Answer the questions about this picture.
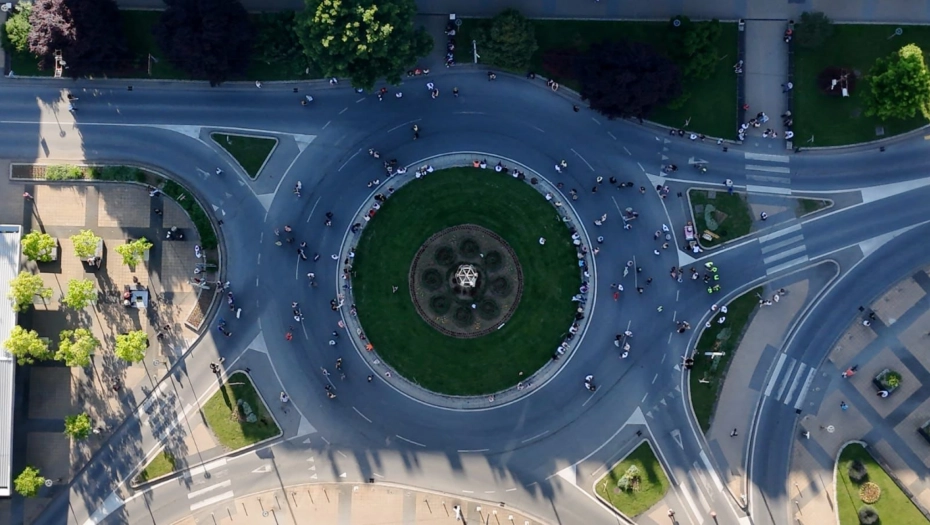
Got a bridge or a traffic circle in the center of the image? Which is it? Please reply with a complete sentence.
What appears in the center of the image is a traffic circle.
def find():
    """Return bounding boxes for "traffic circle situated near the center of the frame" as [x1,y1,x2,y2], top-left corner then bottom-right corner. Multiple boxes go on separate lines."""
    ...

[259,73,676,490]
